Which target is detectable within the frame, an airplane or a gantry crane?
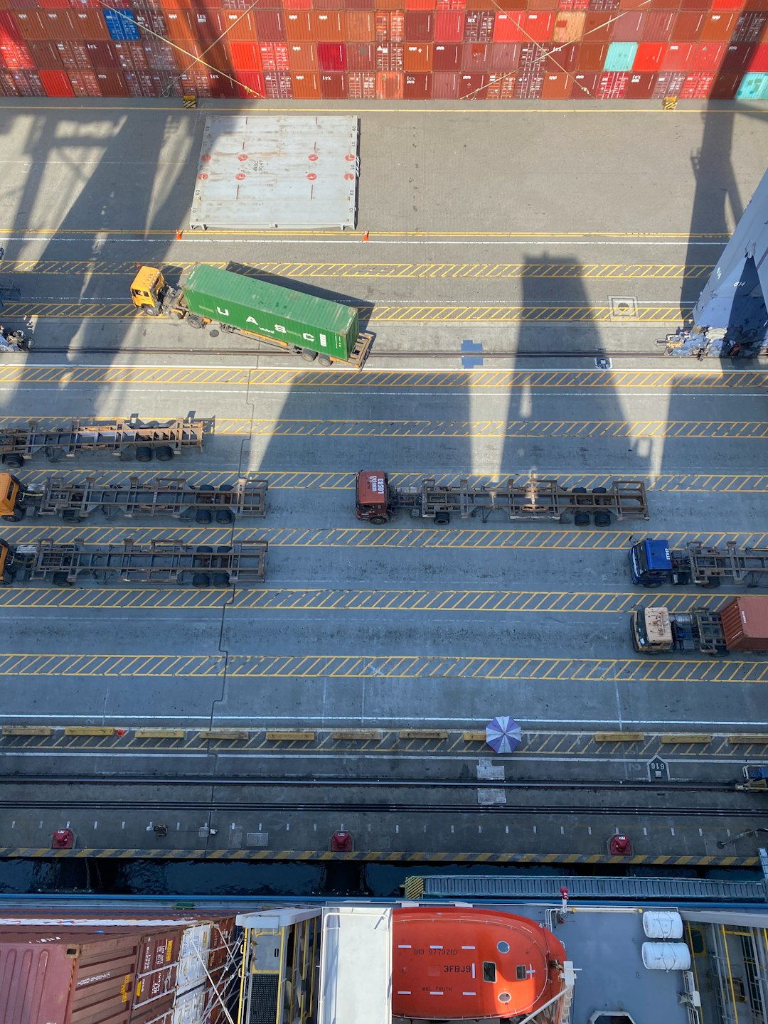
gantry crane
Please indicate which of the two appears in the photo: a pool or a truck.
truck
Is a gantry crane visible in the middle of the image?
No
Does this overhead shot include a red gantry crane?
No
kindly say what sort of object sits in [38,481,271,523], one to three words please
trailer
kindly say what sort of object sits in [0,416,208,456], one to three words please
trailer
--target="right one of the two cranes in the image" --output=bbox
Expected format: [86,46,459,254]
[649,140,768,369]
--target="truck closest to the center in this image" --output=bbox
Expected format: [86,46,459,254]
[351,471,450,526]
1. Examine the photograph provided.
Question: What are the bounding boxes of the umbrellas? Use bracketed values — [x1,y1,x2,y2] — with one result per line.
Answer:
[484,718,520,754]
